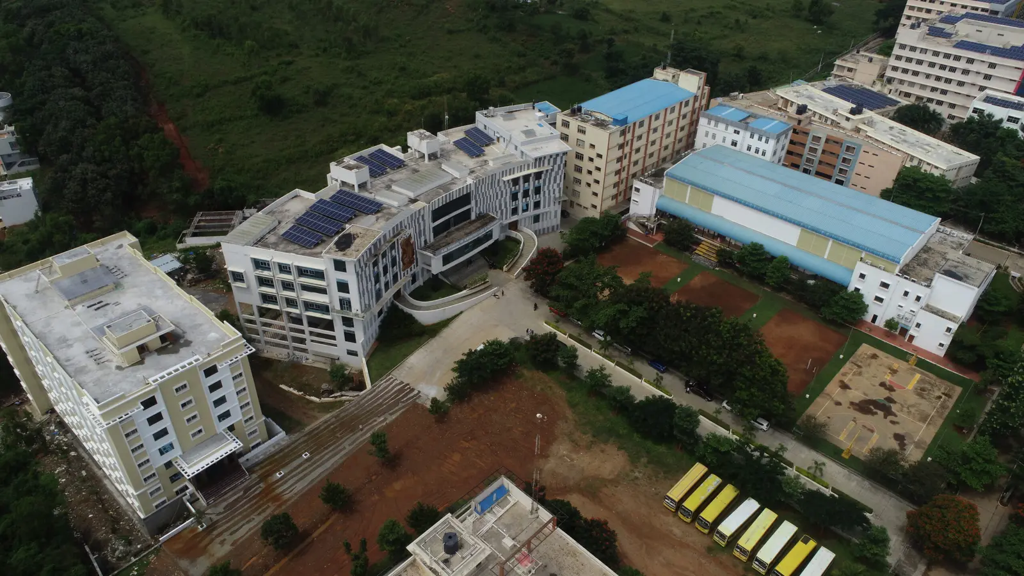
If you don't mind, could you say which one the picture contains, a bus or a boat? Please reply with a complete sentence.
This aerial view contains a bus.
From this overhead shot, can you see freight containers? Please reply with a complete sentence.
No, the photo shows no freight container.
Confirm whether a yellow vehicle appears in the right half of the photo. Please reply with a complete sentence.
Yes, looking in the right half of the photo, one can make out a yellow vehicle.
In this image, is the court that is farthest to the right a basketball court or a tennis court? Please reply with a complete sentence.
The court that is farthest to the right can be classified as a basketball court.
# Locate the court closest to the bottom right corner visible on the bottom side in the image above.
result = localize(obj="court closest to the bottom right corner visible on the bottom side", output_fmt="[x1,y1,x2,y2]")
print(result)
[796,344,962,481]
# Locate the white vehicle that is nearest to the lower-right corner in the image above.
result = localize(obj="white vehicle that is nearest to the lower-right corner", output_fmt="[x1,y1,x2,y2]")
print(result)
[805,548,838,576]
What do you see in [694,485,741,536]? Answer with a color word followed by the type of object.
yellow bus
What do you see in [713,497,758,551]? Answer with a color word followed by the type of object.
white bus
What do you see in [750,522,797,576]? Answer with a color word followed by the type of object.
white bus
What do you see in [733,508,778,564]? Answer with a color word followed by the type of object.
yellow bus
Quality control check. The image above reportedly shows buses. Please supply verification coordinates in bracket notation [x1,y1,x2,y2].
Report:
[750,522,797,576]
[694,485,741,536]
[774,535,817,576]
[805,548,838,576]
[713,497,758,551]
[664,465,708,515]
[677,475,722,526]
[733,508,778,564]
